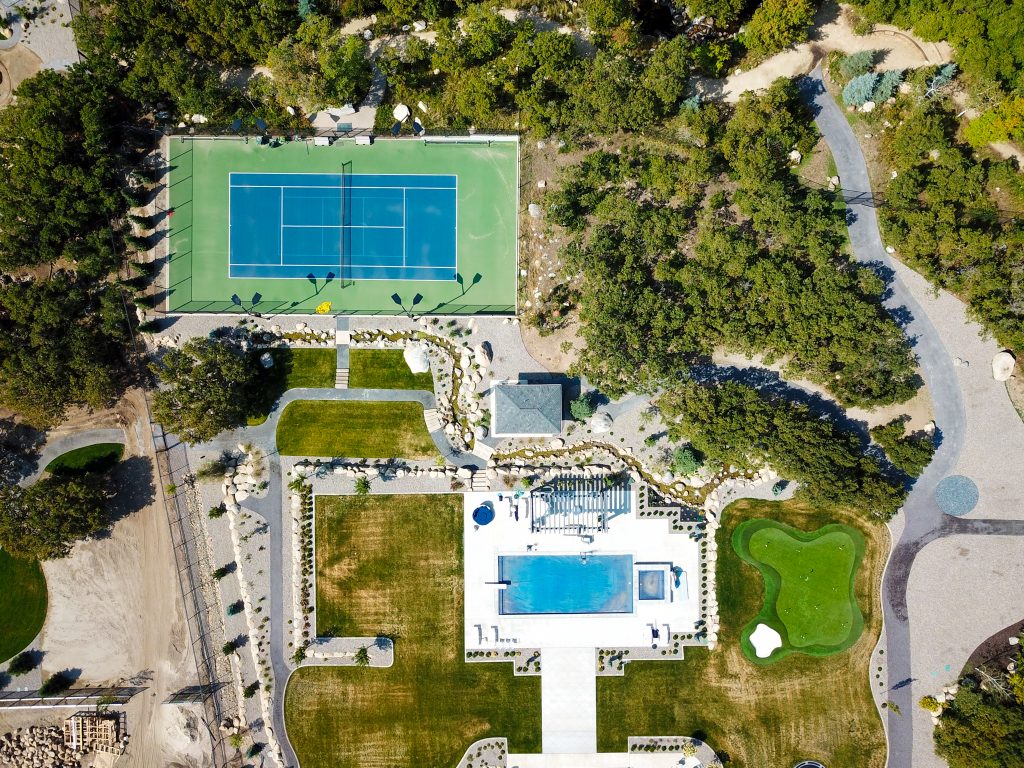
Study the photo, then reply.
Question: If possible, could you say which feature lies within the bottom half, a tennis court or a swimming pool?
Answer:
swimming pool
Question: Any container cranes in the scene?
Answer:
No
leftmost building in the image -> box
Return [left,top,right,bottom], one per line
[495,384,562,434]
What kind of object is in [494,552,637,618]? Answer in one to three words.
swimming pool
